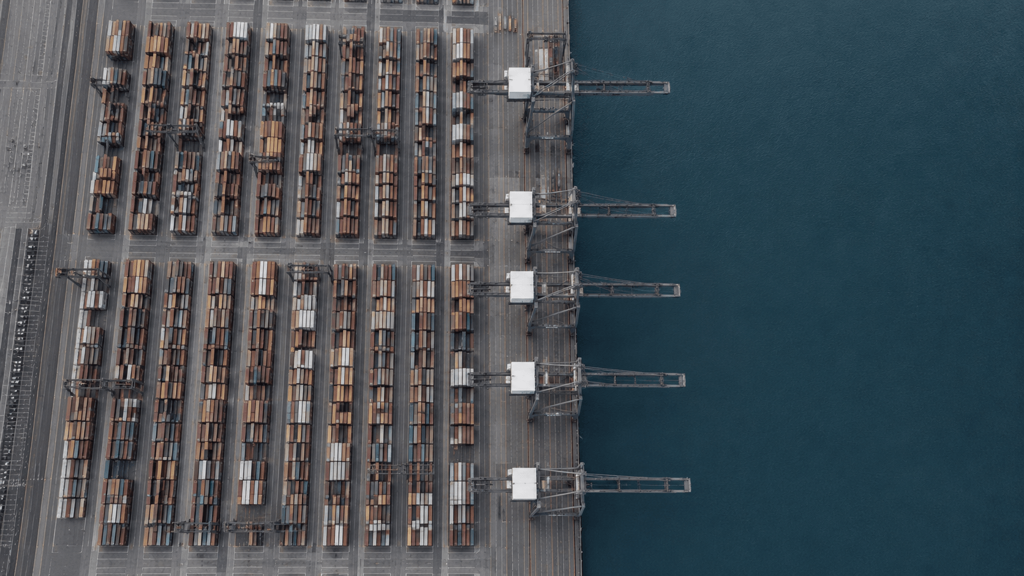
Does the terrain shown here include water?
Yes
